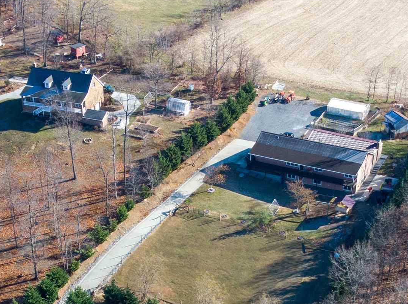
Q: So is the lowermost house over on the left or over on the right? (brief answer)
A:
right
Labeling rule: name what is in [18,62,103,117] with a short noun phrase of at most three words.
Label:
house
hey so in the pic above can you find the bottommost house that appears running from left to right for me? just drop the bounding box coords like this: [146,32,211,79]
[248,125,384,193]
